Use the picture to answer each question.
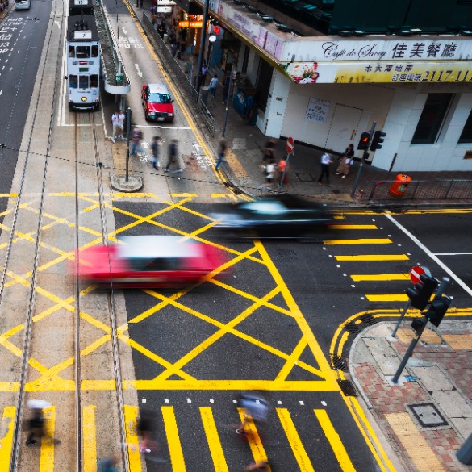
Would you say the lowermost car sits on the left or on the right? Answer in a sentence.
The lowermost car is on the left side of the image.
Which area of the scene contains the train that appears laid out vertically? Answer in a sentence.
Look in the top left portion of the view to spot the train that appears laid out vertically.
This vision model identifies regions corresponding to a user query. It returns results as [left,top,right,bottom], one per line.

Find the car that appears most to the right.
[202,180,339,235]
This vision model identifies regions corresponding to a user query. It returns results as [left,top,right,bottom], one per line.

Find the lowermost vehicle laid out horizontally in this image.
[81,222,226,285]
